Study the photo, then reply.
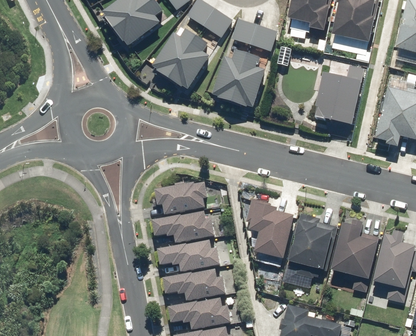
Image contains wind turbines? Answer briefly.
No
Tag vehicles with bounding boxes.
[40,99,52,113]
[400,139,407,154]
[365,165,381,173]
[273,304,286,318]
[257,168,270,176]
[372,220,380,236]
[253,8,262,24]
[146,208,160,216]
[164,266,178,274]
[410,176,416,182]
[118,288,126,302]
[136,266,142,280]
[364,219,372,234]
[288,146,304,154]
[124,316,132,332]
[195,129,211,138]
[390,200,408,210]
[352,192,366,200]
[170,324,184,332]
[324,208,332,223]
